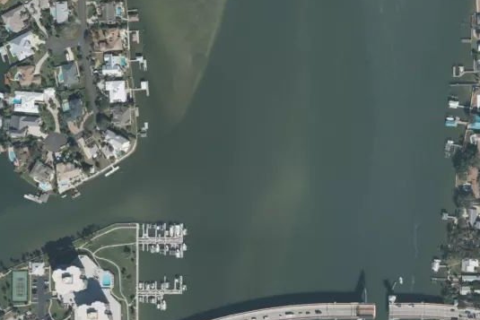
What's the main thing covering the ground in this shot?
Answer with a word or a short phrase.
water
